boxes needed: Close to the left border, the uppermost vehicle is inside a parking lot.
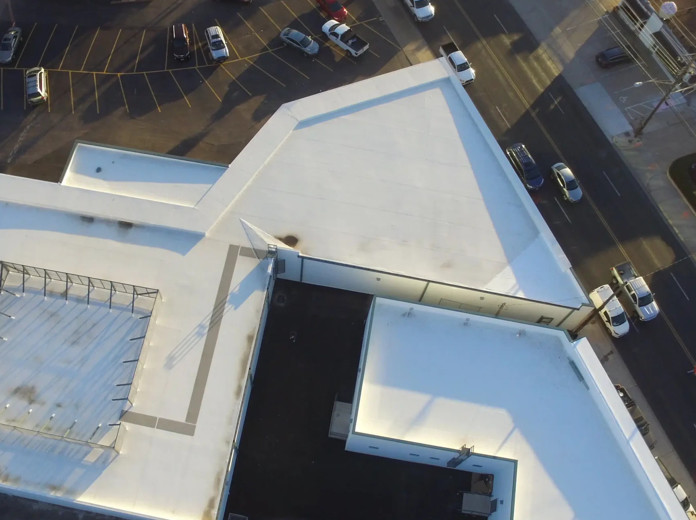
[0,26,24,64]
